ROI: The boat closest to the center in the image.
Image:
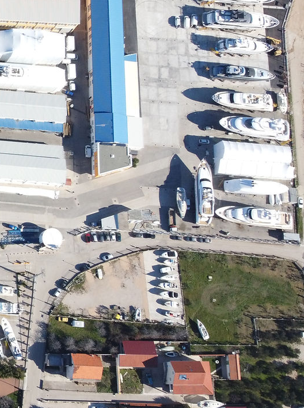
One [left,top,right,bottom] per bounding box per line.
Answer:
[172,187,206,217]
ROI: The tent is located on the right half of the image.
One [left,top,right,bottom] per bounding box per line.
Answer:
[210,143,299,180]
